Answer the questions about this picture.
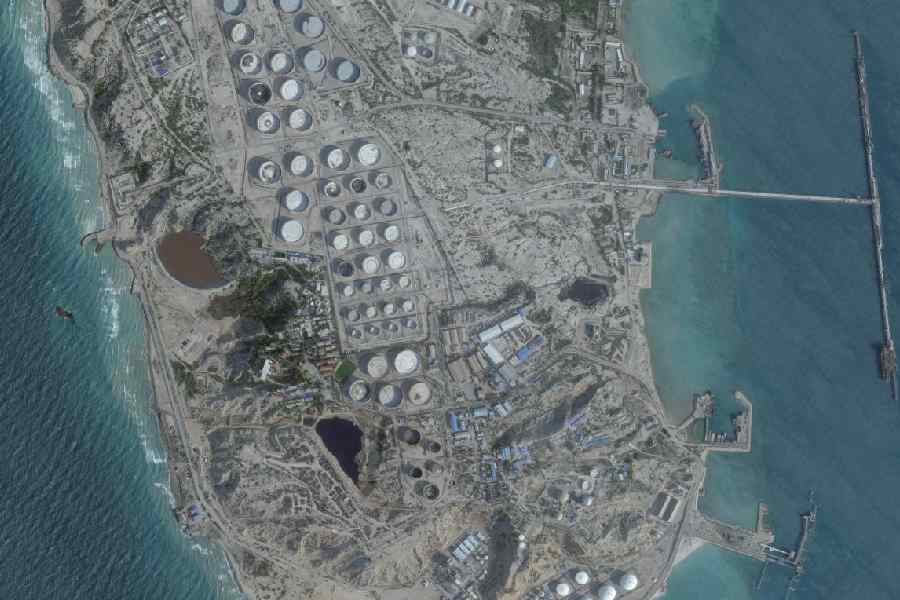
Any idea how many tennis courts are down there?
zero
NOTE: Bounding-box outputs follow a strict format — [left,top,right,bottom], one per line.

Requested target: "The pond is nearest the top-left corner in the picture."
[159,232,233,289]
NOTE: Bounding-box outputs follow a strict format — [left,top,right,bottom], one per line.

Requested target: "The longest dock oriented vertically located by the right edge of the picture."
[853,30,889,345]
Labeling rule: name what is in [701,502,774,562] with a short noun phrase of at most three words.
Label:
pier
